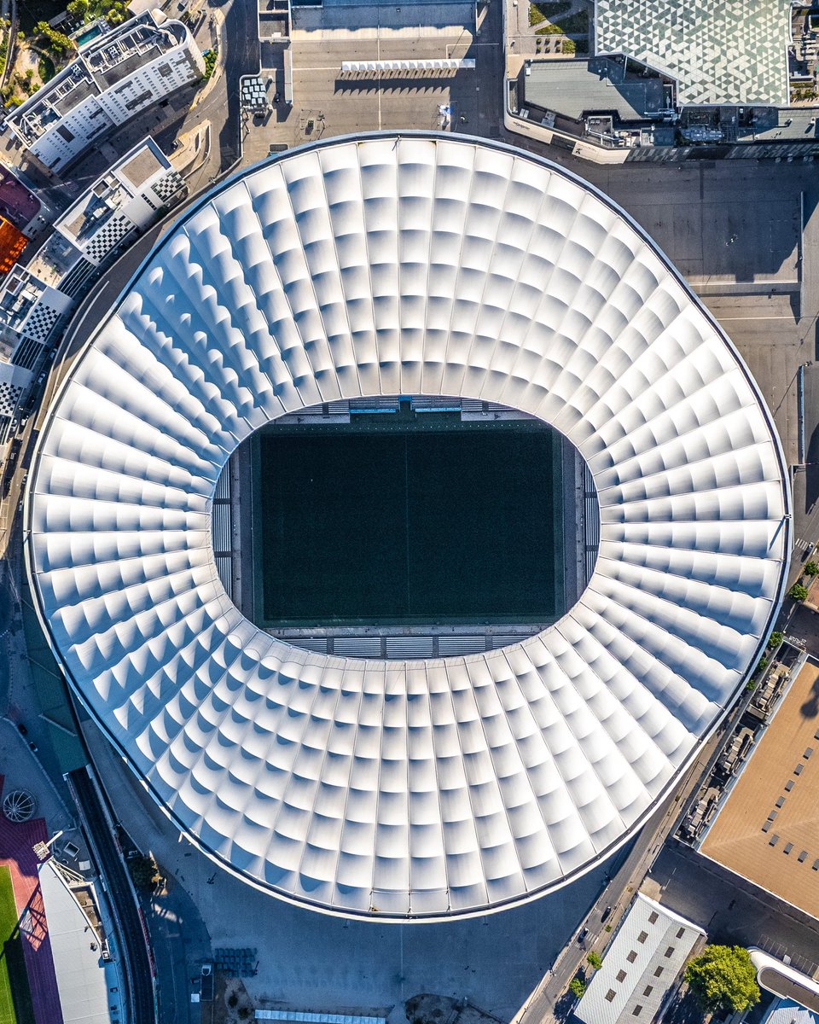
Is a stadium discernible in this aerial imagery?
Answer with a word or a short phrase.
Yes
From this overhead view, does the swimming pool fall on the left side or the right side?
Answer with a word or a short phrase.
left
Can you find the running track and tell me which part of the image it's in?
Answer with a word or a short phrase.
bottom left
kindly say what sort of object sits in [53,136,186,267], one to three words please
building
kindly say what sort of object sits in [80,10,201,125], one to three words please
building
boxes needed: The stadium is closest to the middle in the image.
[22,128,796,926]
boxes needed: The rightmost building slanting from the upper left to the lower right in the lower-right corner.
[745,945,819,1014]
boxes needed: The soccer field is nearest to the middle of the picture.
[242,406,578,640]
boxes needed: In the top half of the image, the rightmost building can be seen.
[500,0,819,164]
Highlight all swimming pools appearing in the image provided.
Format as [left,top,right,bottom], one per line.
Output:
[72,17,109,51]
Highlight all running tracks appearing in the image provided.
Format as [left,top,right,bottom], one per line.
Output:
[0,772,64,1024]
